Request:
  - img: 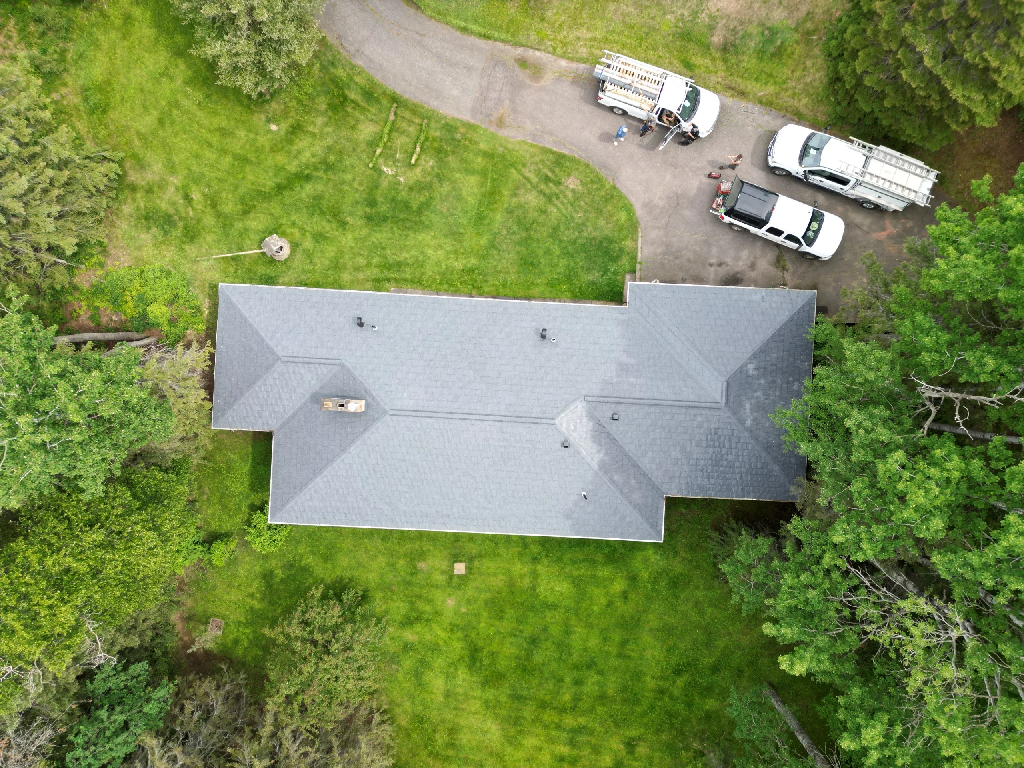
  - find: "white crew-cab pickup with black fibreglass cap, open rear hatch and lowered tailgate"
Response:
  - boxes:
[707,170,843,263]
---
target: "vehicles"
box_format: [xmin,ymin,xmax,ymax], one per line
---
[707,170,843,263]
[763,124,935,217]
[594,52,720,151]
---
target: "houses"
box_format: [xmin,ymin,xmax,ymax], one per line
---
[210,280,818,544]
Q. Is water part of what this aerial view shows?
No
